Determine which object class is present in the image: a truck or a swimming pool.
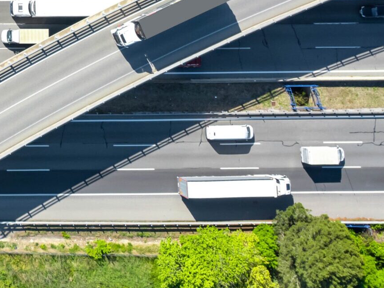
truck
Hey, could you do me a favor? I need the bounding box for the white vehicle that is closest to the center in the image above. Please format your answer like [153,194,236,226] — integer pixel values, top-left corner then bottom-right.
[204,124,250,142]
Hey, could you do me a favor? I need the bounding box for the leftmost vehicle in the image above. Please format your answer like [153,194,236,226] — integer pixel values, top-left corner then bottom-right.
[1,28,48,45]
